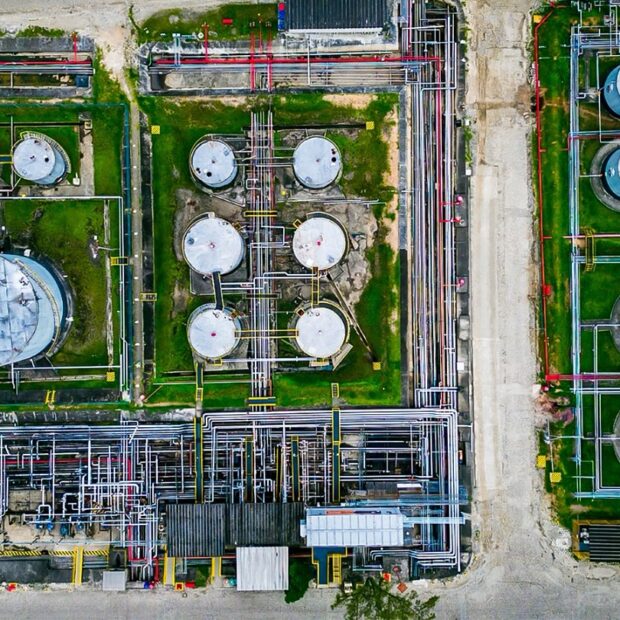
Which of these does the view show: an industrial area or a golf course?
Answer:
industrial area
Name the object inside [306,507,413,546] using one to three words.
building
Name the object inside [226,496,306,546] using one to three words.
shed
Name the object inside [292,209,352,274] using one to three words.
storage tank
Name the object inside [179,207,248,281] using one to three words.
storage tank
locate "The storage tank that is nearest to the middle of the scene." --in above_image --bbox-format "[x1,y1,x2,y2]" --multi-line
[294,301,351,357]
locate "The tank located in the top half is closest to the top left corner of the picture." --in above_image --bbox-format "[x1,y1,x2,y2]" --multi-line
[12,128,71,187]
